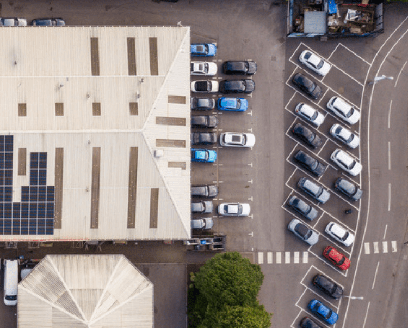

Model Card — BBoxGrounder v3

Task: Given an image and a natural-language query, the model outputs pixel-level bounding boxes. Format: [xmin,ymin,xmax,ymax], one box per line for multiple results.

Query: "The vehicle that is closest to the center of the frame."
[191,148,217,163]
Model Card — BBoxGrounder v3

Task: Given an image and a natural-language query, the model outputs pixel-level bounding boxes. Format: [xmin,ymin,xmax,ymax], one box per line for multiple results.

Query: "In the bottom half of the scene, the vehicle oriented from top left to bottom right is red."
[319,244,352,271]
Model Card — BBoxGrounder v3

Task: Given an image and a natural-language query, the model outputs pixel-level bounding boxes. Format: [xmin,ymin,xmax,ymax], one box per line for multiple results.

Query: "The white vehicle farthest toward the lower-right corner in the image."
[323,221,355,246]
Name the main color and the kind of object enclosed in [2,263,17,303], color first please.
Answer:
white vehicle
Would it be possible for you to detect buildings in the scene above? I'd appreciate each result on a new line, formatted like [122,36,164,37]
[17,254,154,328]
[0,21,193,242]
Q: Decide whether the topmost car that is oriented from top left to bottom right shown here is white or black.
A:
white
